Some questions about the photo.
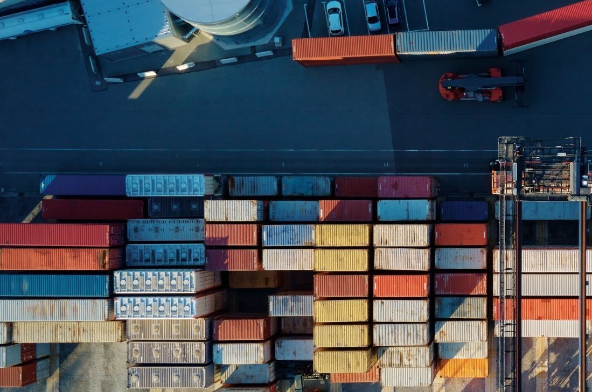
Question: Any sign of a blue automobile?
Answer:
Yes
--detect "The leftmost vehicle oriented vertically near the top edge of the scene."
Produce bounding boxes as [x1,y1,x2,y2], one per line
[325,0,346,37]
